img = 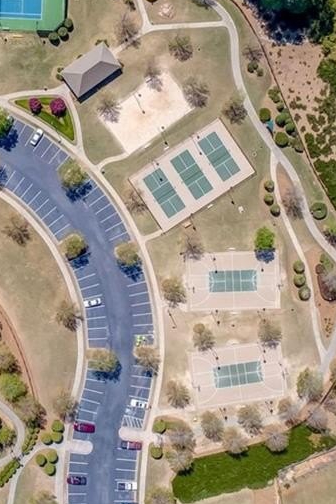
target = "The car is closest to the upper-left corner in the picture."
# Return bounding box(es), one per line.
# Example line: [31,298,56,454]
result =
[30,129,44,146]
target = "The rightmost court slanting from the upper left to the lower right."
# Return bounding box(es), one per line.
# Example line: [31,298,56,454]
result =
[198,132,240,181]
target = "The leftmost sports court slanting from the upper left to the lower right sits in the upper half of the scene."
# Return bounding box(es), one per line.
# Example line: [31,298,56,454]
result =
[143,168,186,218]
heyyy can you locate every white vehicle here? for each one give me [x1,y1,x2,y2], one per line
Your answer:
[30,129,44,146]
[130,400,148,409]
[84,298,102,307]
[118,482,138,491]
